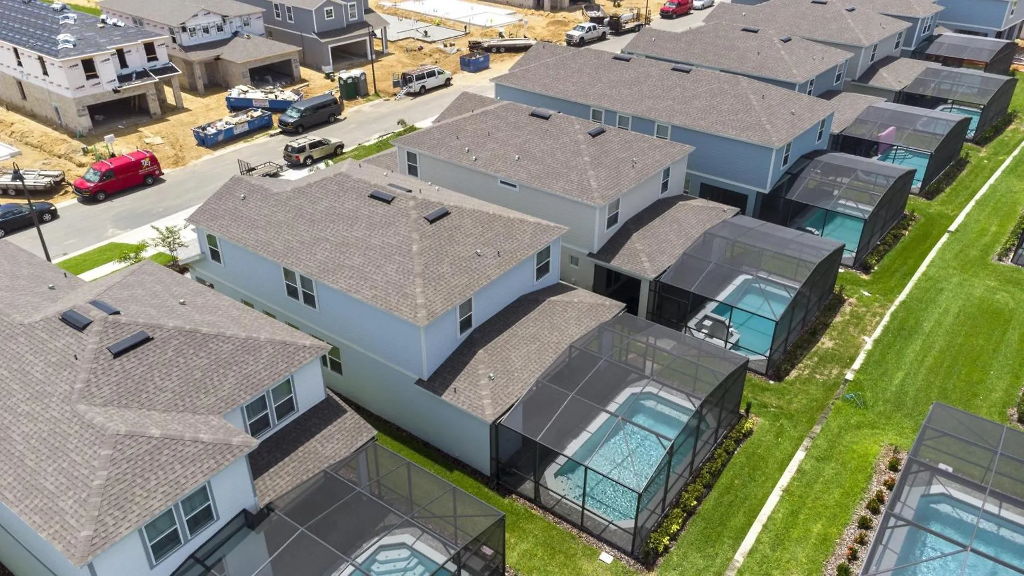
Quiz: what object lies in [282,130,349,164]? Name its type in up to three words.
car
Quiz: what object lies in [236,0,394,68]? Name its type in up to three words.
house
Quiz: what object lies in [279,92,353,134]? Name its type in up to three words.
van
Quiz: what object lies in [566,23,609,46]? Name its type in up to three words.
truck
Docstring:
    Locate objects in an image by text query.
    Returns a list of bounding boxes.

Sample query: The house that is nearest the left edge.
[0,0,187,132]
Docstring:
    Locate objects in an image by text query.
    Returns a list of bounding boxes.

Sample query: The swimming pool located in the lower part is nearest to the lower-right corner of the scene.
[878,492,1024,576]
